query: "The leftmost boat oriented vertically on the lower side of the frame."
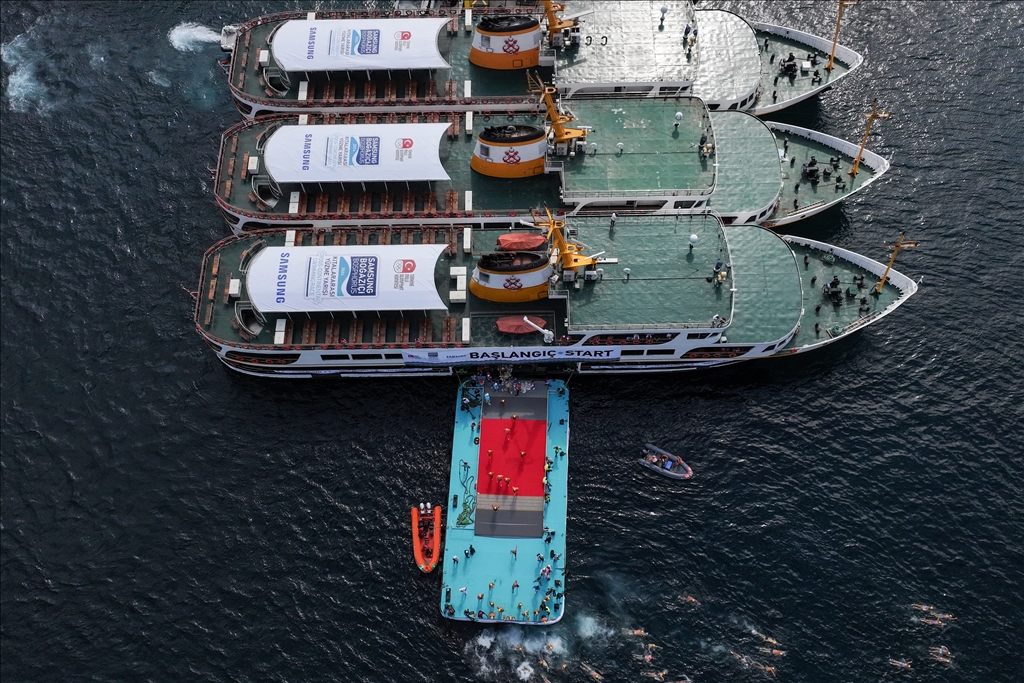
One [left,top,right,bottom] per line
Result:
[412,503,441,574]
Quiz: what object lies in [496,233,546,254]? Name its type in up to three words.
boat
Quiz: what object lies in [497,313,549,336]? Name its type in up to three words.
boat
